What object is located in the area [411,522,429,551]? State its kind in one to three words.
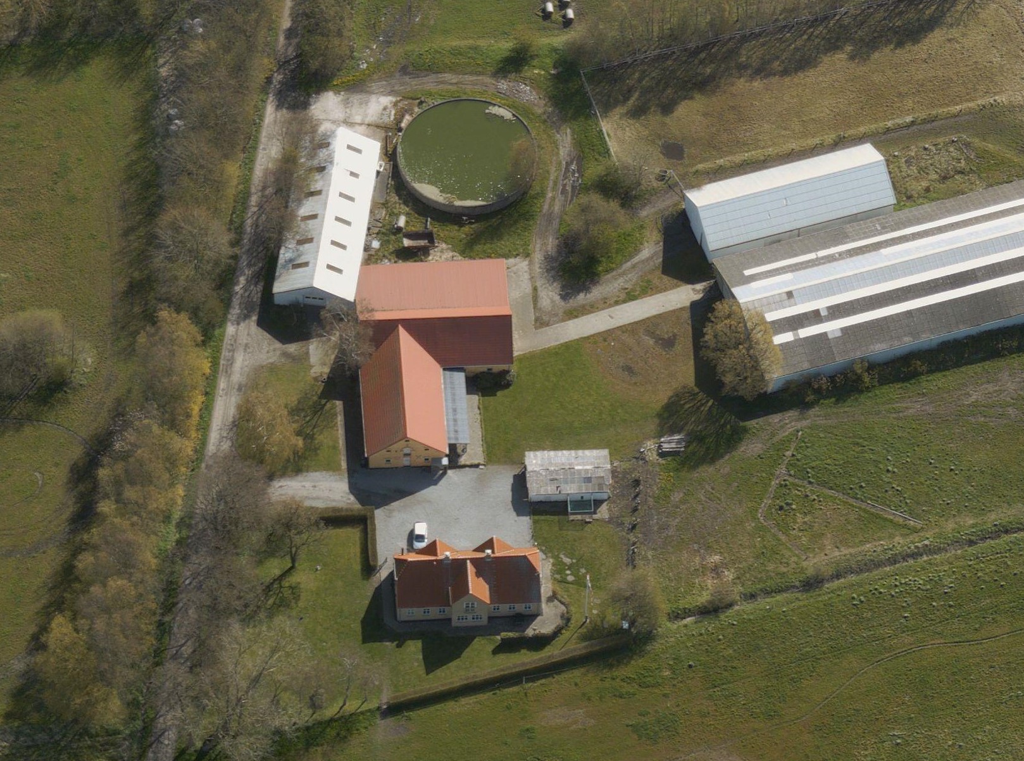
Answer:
car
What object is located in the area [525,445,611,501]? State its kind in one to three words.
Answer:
shed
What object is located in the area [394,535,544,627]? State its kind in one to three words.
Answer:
house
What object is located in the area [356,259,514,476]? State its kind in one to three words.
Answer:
barn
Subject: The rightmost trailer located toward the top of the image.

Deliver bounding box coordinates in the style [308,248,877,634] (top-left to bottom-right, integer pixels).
[402,224,436,253]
